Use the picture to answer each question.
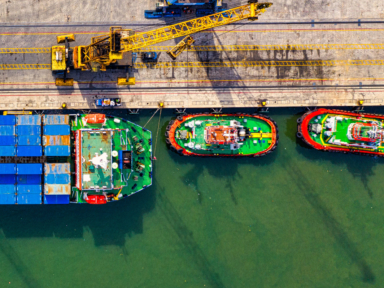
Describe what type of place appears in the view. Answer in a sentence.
This image shows a port.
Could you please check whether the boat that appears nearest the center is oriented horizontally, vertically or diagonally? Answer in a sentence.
From this overhead view, the boat that appears nearest the center appears to run horizontally.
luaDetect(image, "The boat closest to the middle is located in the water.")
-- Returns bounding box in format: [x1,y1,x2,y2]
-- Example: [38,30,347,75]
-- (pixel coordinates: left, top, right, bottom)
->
[163,110,281,159]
